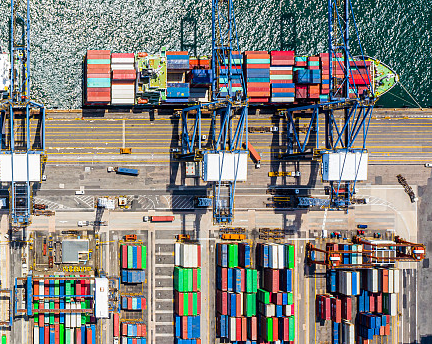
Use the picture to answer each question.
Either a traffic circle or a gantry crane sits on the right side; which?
gantry crane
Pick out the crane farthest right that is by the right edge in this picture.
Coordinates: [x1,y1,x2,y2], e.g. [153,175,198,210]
[356,237,430,263]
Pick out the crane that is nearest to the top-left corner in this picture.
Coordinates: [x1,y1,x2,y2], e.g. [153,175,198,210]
[0,0,49,226]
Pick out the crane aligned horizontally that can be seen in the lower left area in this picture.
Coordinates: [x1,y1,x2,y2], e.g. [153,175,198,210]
[15,267,120,317]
